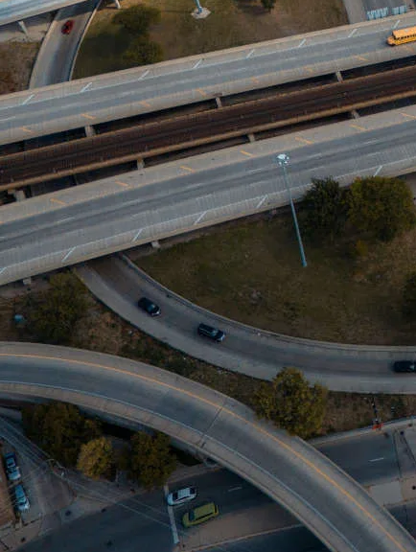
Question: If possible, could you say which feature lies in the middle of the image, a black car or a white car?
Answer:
black car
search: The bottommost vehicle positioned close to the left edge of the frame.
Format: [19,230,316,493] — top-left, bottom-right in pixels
[12,480,30,516]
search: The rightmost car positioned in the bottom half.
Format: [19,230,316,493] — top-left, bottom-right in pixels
[394,360,416,373]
